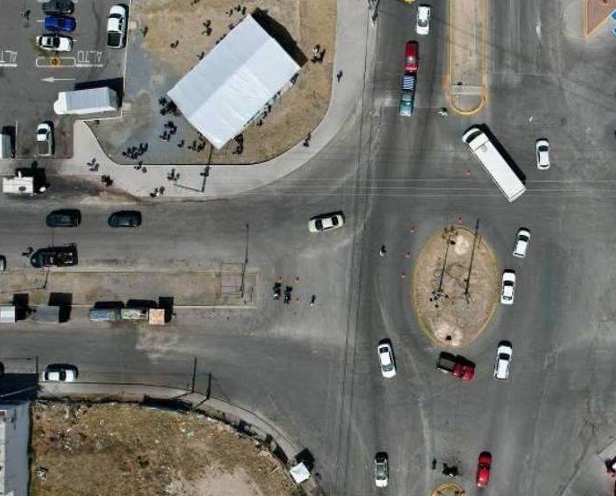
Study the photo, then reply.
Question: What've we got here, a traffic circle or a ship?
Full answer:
Visible in the photo is a traffic circle.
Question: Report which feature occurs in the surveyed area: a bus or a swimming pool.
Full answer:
The image shows a bus.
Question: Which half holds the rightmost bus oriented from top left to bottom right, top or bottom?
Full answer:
The top half of the photo is where the rightmost bus oriented from top left to bottom right is.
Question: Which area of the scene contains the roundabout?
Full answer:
The roundabout is located in the right region of the scene.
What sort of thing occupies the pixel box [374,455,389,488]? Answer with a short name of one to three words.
car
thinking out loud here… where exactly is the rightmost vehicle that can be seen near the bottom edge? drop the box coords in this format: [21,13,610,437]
[476,452,493,488]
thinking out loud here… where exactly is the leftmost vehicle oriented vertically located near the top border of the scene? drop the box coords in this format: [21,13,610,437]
[107,5,126,48]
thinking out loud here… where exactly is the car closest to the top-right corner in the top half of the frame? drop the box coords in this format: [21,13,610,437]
[536,139,551,169]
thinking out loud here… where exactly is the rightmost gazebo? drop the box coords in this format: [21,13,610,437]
[290,457,314,483]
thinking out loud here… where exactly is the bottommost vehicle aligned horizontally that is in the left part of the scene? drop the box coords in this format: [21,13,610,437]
[45,368,78,383]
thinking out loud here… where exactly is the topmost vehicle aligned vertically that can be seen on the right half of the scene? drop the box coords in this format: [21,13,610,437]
[416,5,431,37]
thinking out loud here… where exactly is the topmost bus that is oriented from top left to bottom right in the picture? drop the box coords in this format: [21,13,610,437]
[463,128,526,203]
